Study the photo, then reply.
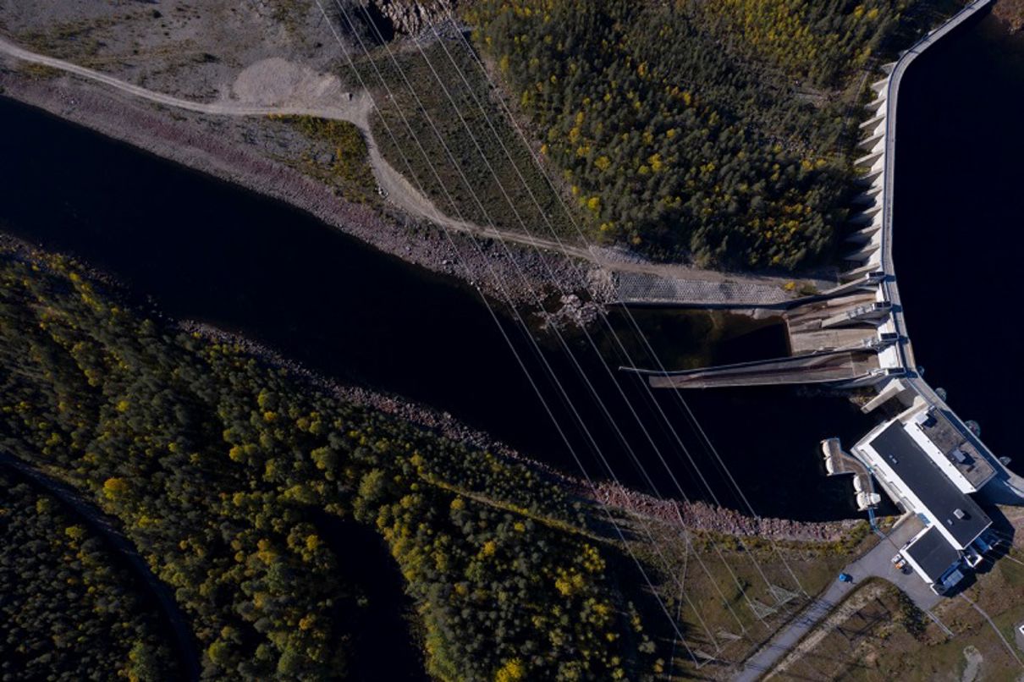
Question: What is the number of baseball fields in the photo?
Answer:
0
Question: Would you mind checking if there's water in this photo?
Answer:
Yes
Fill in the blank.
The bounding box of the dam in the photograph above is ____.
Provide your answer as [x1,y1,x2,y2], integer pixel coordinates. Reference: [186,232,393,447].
[837,0,1024,496]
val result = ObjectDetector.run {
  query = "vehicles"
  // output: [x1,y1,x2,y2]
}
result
[890,553,903,565]
[839,572,848,583]
[895,558,908,570]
